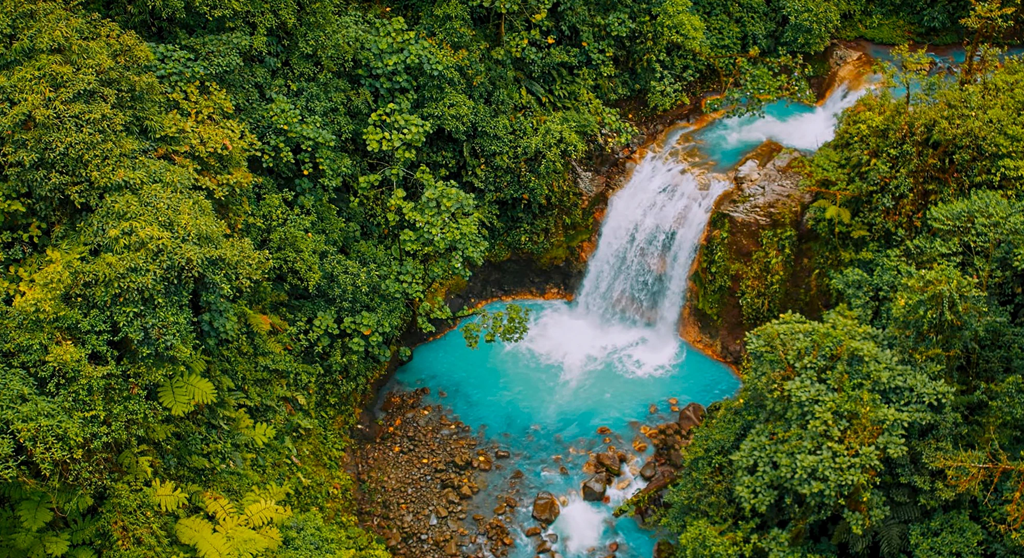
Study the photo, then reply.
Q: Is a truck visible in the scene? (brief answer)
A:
No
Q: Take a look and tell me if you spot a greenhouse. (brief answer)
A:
No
